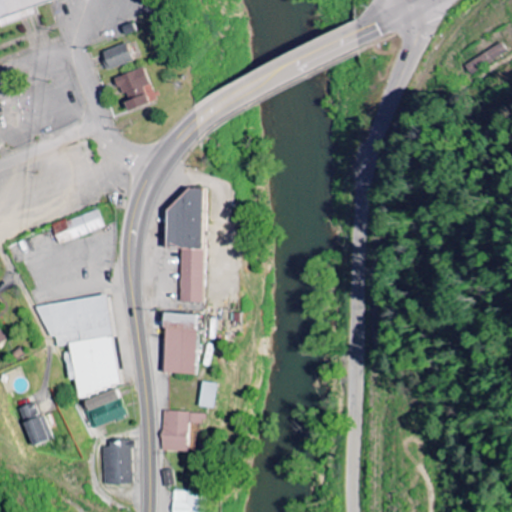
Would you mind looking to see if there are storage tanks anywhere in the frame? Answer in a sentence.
No, the frame has no storage tank in it.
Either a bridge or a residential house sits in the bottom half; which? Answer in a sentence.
The feature located in the bottom half is a residential house.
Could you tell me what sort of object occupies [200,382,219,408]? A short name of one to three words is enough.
shed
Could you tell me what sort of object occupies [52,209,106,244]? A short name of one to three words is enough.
building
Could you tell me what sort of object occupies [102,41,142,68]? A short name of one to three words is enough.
house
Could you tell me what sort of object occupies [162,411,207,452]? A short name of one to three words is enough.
house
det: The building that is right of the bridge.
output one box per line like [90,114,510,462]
[466,43,505,73]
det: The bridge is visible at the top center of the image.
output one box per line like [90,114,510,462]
[188,24,364,138]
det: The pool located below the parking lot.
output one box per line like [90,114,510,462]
[12,378,28,392]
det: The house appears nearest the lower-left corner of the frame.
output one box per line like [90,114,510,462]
[20,404,58,446]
